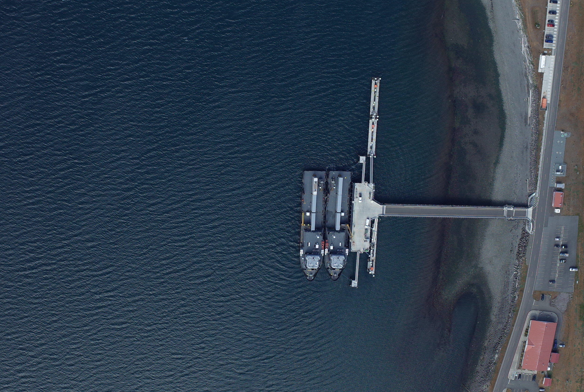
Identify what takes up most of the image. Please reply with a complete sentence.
For the most part, this view shows water.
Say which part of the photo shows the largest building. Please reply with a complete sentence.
The largest building is located in the bottom right region of the scene.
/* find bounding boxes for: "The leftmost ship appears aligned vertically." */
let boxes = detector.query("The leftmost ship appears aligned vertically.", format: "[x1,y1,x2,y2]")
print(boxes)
[300,171,326,280]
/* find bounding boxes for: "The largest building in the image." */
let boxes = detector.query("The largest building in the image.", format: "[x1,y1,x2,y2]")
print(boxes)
[521,320,557,371]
